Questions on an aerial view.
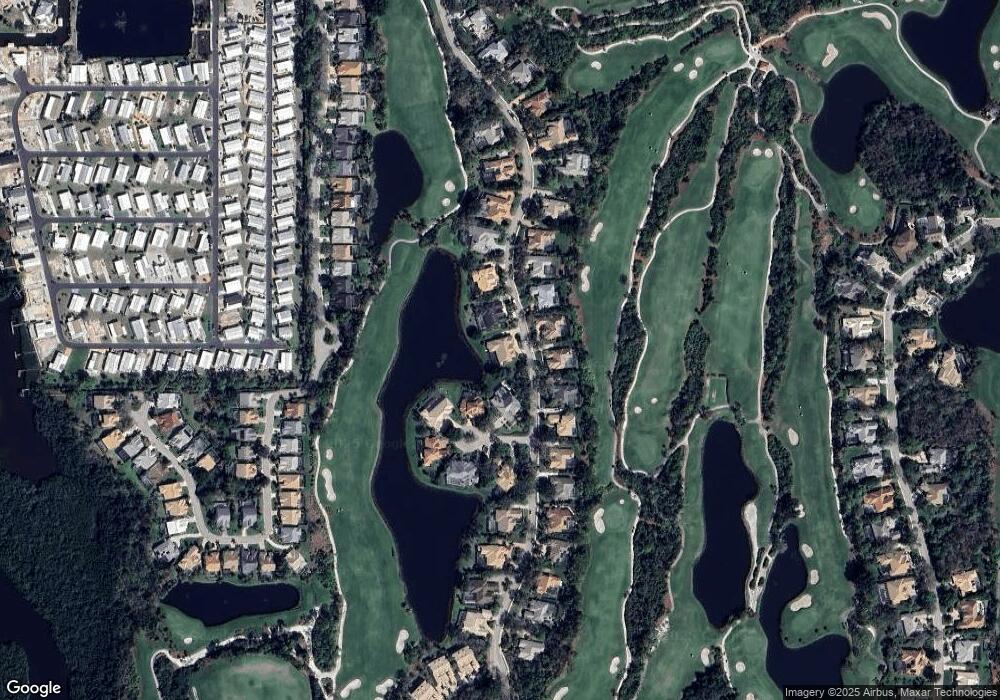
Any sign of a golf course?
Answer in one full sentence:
Yes, you can see a golf course in this photo.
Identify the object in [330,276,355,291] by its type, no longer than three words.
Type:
house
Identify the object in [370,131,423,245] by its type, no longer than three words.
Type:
pond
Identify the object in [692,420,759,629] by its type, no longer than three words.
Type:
pond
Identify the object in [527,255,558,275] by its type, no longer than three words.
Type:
house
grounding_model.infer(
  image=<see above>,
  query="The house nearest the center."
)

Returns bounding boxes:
[481,336,516,361]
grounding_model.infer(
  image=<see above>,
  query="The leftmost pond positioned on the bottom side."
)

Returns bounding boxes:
[161,580,299,627]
